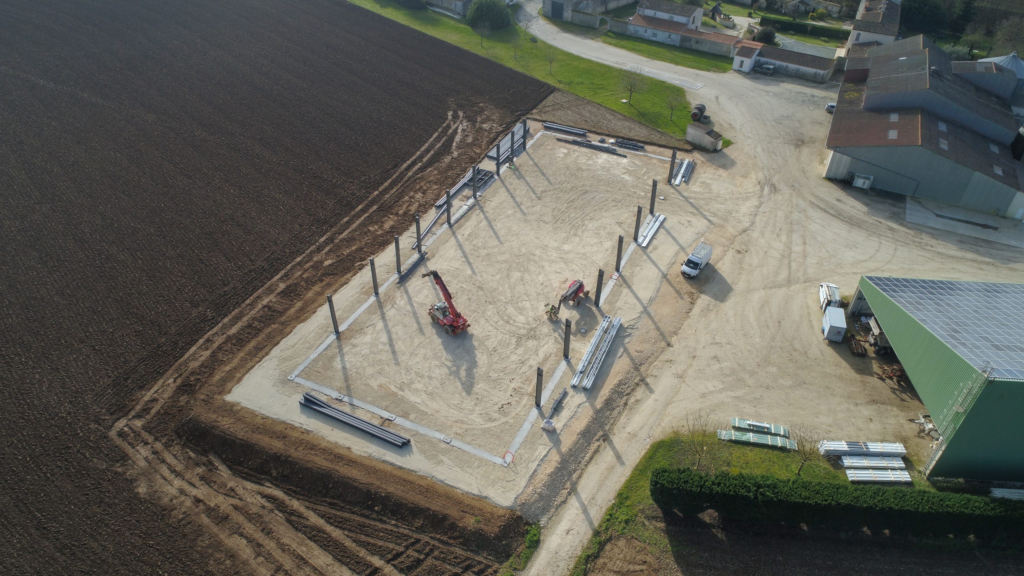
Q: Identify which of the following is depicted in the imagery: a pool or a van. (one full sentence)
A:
Looking from above, you can make out a van.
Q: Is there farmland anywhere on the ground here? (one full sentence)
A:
Yes, the picture does contain farmland.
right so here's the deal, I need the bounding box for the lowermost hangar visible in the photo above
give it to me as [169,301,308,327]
[848,274,1024,484]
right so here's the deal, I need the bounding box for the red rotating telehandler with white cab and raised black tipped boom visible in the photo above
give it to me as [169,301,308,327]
[418,274,473,343]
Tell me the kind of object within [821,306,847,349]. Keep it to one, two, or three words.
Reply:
trailer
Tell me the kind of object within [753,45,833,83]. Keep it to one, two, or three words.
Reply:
shed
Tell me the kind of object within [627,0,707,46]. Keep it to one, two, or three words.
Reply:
house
